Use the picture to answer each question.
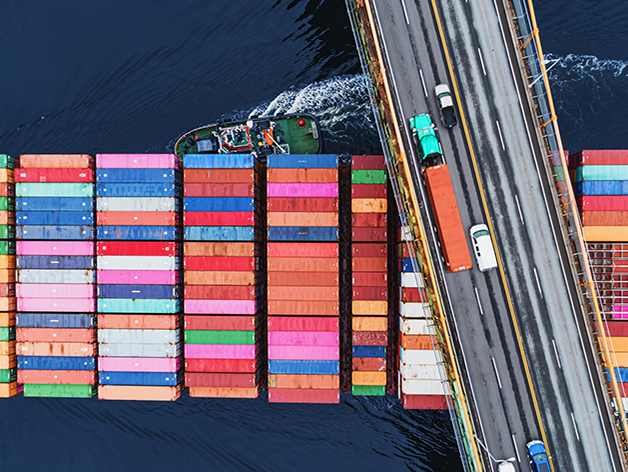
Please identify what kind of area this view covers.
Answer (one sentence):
What you see here is a port.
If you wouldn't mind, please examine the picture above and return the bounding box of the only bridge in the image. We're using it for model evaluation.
[344,0,628,472]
